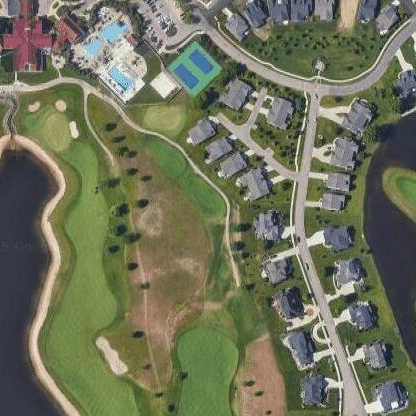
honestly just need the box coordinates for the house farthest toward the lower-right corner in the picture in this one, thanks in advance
[377,380,413,414]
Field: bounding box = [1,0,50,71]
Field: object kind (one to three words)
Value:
building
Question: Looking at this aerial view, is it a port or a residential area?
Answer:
residential area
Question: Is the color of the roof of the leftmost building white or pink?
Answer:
pink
